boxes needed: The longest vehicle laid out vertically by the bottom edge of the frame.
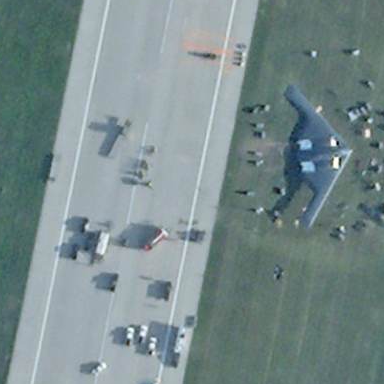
[173,323,189,365]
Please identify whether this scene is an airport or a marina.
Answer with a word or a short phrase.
airport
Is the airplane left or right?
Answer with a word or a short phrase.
right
